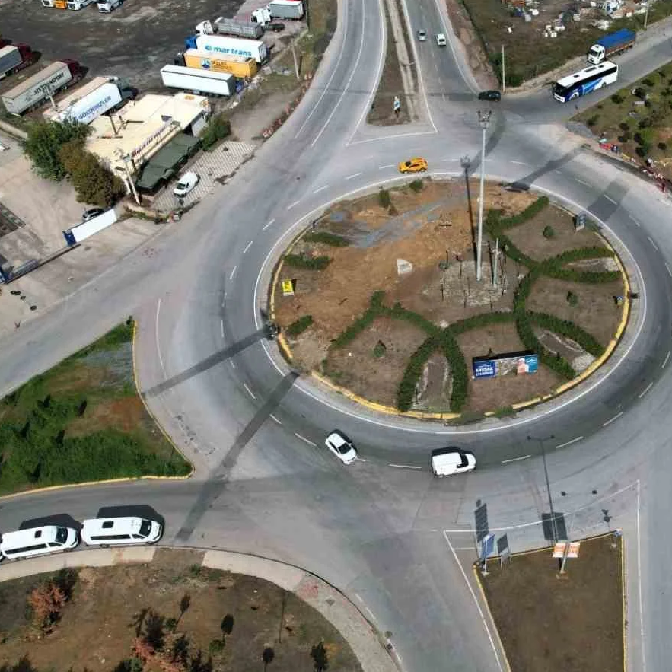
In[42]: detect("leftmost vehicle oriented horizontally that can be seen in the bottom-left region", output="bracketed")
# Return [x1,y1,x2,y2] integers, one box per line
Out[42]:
[0,528,81,566]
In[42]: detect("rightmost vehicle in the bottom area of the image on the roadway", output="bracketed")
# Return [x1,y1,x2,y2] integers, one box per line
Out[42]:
[432,453,476,479]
